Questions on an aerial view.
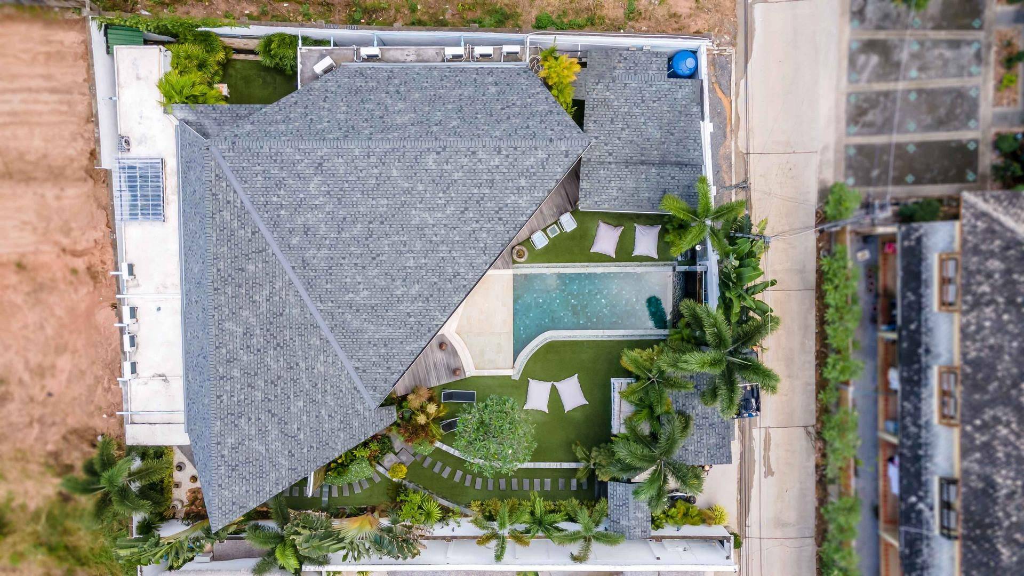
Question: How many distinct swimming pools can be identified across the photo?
1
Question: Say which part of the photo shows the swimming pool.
center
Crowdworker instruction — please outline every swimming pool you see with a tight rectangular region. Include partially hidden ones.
[512,261,676,381]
